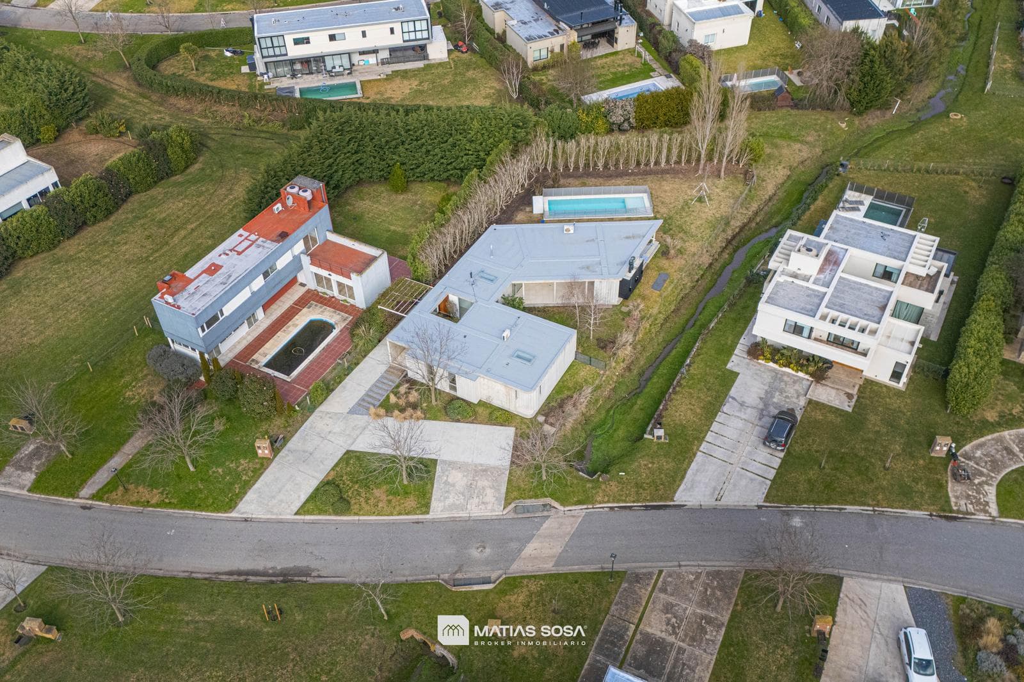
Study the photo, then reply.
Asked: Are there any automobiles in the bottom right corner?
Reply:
Yes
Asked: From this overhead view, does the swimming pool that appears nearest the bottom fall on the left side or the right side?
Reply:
left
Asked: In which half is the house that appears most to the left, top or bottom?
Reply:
top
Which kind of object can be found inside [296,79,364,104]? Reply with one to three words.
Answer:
swimming pool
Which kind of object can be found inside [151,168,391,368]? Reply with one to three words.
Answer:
house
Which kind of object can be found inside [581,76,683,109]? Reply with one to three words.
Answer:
swimming pool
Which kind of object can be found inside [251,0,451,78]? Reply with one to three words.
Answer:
house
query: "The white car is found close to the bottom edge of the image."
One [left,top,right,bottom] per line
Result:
[896,628,940,682]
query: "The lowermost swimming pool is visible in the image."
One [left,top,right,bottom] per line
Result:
[244,301,353,381]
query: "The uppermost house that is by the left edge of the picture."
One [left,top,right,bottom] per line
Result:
[0,133,62,223]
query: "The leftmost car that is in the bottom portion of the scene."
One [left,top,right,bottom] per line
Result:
[764,409,798,451]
